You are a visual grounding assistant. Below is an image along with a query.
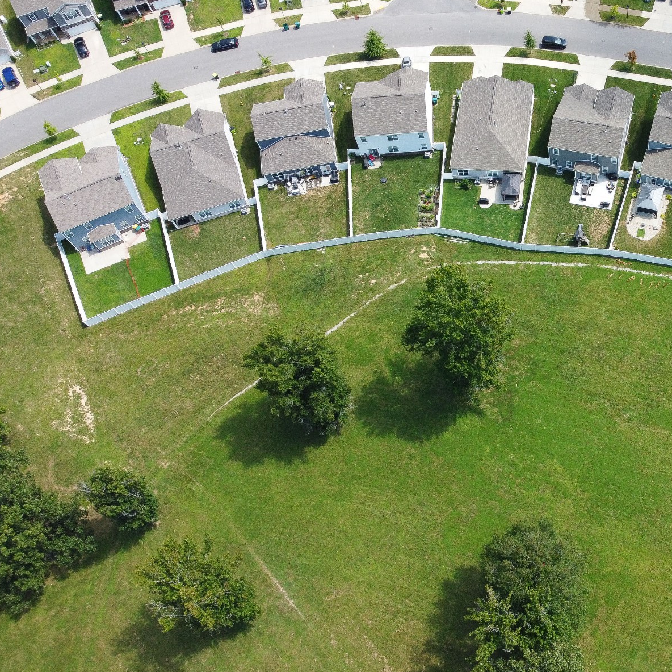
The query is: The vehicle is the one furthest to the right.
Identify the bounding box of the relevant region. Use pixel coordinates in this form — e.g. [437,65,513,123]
[539,33,568,49]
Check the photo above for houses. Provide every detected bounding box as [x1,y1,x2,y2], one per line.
[448,74,536,180]
[112,0,183,22]
[0,23,15,65]
[41,143,149,252]
[9,0,100,48]
[150,107,250,229]
[547,83,635,185]
[352,67,434,158]
[638,91,672,191]
[251,78,339,184]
